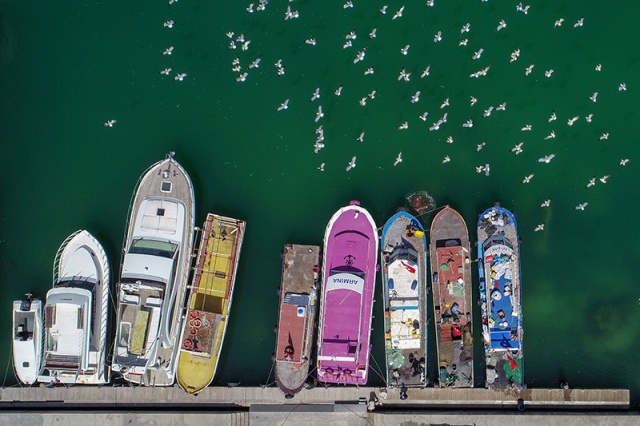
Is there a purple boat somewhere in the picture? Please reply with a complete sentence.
Yes, a purple boat appears in the view.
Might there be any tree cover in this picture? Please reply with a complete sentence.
No, there is no tree cover in the image.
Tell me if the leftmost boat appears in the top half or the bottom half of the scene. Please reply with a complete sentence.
You can find the leftmost boat in the bottom half.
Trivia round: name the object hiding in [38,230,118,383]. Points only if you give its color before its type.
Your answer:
white boat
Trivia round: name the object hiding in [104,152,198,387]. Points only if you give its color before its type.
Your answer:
white boat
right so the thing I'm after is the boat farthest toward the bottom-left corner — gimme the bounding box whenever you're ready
[12,294,48,385]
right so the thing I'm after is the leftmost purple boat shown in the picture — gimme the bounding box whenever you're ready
[313,199,381,388]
